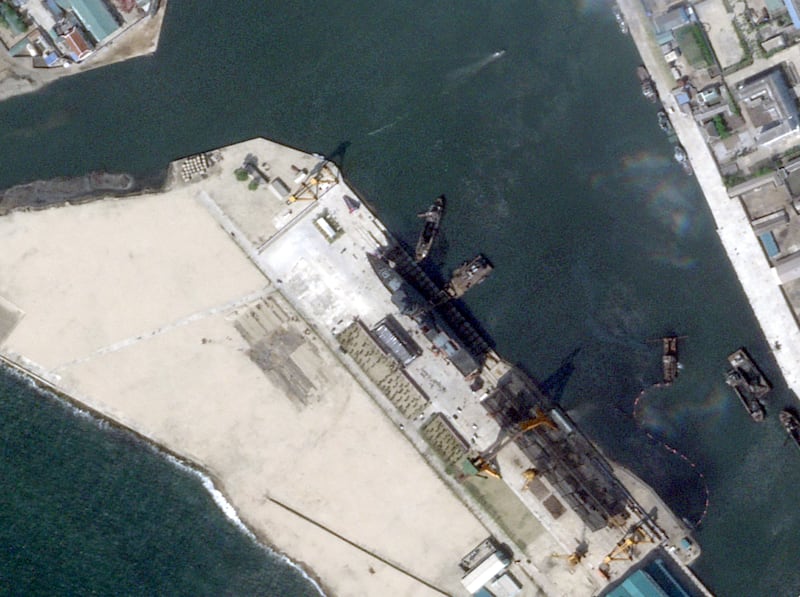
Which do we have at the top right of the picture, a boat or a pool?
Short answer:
boat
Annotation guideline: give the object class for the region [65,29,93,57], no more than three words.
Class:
house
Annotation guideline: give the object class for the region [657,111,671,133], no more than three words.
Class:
boat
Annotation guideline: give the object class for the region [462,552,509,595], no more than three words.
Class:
building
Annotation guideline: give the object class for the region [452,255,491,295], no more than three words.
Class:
ship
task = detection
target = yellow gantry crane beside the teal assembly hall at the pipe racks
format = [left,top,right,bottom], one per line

[603,526,655,563]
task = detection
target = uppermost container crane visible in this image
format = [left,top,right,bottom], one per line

[286,163,339,206]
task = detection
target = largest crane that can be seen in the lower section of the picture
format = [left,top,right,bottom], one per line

[478,410,559,481]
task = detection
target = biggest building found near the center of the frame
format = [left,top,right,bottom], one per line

[377,324,420,364]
